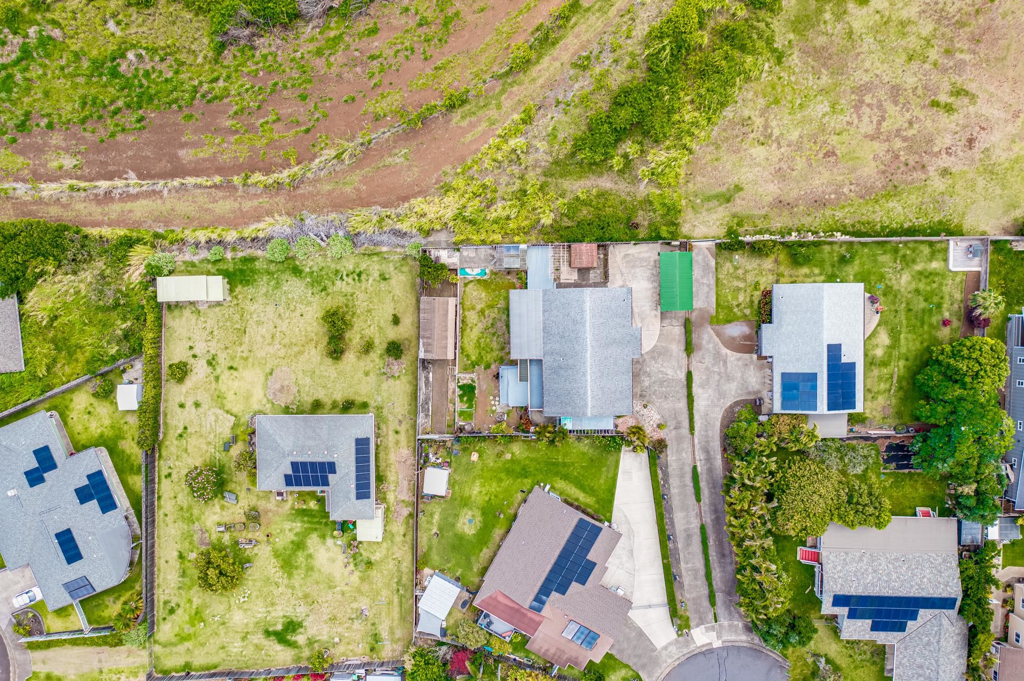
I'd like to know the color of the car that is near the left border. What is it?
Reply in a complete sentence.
The car that is near the left border is white.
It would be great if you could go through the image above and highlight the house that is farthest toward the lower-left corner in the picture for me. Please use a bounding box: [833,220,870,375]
[0,410,136,612]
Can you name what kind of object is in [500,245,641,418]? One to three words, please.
house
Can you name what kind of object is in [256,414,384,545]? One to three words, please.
house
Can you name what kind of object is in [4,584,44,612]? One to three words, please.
car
